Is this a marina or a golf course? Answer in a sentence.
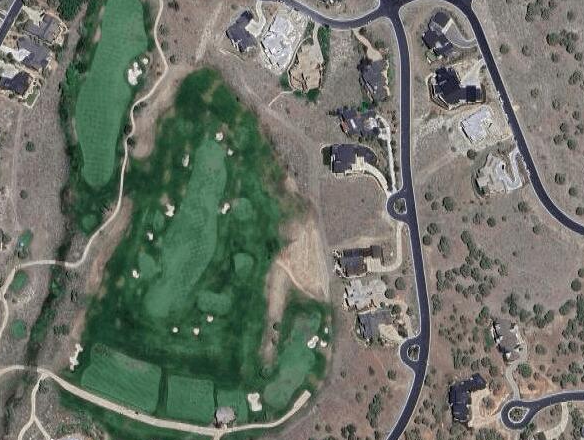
The area seen from above is a golf course.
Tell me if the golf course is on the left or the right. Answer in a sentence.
The golf course appears in the left half of the scene.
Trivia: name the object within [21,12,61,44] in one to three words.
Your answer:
house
